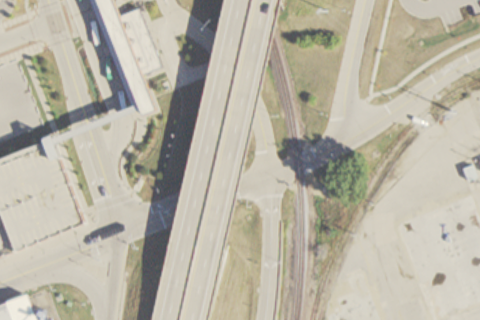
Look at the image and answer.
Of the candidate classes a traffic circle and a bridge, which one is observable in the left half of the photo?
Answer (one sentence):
Looking in the left half of the photo, you will find a bridge.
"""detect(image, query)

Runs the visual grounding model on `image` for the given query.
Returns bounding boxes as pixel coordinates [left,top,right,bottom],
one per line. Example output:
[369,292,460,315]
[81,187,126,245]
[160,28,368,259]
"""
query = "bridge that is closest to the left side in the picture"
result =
[54,107,138,144]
